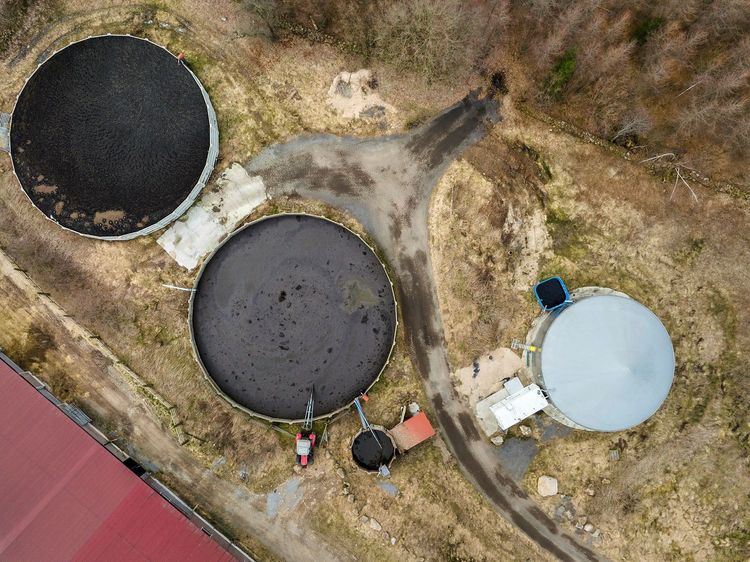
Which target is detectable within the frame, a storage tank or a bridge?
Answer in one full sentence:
This aerial view contains a storage tank.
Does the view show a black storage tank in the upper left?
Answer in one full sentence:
Yes, you'll find a black storage tank in the upper left.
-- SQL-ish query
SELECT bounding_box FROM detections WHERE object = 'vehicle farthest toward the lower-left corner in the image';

[294,432,316,464]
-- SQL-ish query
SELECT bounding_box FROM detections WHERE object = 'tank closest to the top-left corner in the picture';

[8,35,218,239]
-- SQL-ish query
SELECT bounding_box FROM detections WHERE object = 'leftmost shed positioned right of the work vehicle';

[390,410,436,451]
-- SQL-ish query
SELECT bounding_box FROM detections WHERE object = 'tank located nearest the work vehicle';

[188,211,399,423]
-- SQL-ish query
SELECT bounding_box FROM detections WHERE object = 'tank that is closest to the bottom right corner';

[522,285,675,432]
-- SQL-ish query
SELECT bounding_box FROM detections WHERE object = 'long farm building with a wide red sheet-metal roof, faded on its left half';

[0,342,264,562]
